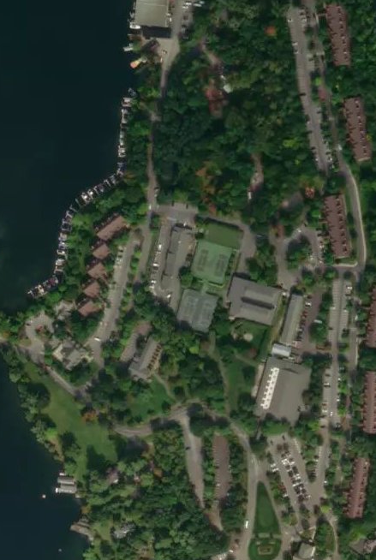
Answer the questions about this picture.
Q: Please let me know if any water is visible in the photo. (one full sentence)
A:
Yes, there is water in the image.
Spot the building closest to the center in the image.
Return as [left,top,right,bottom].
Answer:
[163,226,196,284]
